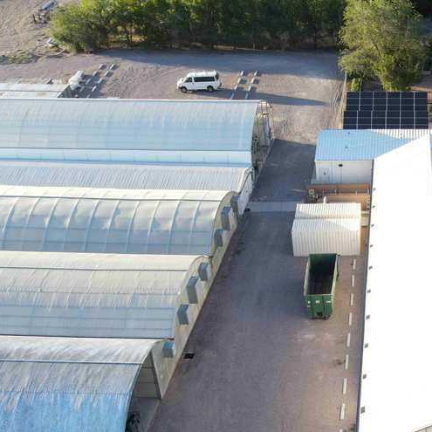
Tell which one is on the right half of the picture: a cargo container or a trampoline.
cargo container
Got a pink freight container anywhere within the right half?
No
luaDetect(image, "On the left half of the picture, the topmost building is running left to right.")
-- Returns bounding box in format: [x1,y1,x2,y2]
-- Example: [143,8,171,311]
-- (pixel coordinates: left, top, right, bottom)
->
[0,95,273,178]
